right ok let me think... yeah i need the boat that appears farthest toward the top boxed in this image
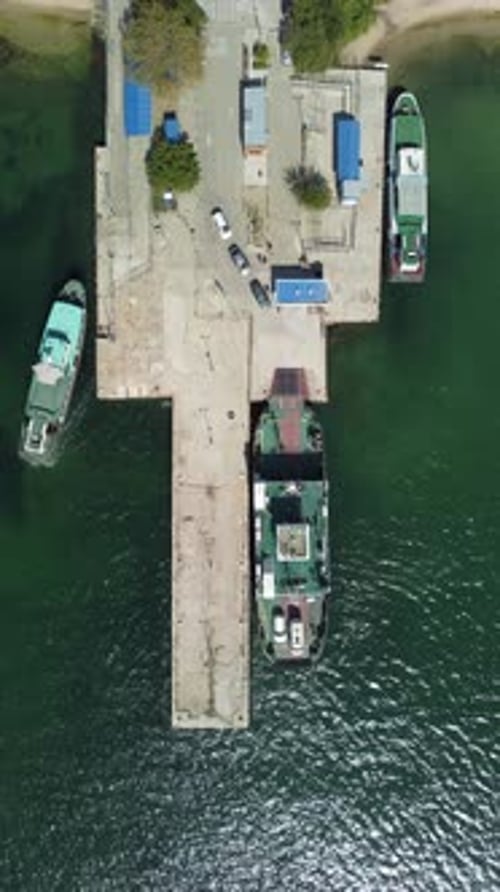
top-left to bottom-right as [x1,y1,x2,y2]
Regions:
[388,91,425,283]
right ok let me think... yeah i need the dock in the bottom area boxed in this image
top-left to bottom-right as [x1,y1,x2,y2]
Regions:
[172,398,250,728]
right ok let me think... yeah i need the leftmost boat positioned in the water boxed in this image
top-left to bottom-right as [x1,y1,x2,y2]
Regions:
[24,281,87,459]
